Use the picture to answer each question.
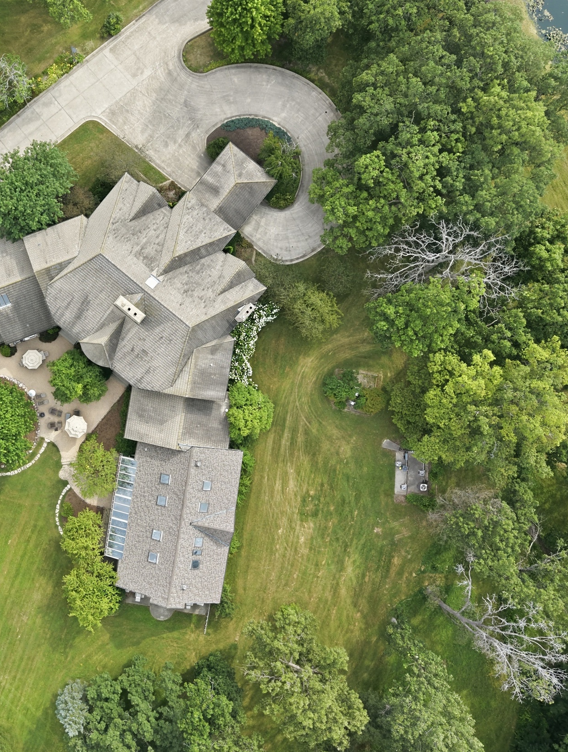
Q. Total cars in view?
none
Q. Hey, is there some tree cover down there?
Yes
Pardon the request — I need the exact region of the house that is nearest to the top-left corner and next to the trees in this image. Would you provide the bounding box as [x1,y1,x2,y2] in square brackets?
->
[0,142,277,449]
